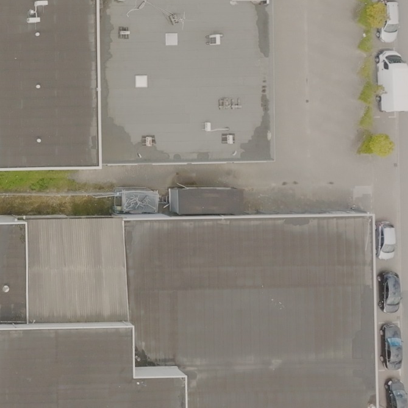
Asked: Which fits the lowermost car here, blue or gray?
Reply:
gray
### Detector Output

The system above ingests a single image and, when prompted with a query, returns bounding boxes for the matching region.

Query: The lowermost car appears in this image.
[384,377,408,408]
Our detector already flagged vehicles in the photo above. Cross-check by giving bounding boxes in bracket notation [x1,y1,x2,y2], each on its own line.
[374,221,397,258]
[378,53,408,110]
[377,323,402,370]
[375,0,400,42]
[376,270,401,313]
[384,377,408,408]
